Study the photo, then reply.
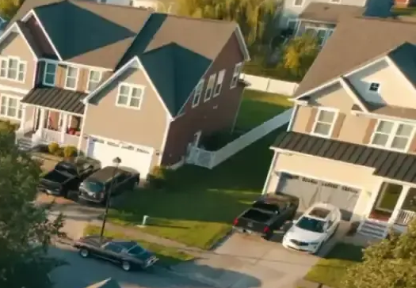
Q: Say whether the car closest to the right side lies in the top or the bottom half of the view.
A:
bottom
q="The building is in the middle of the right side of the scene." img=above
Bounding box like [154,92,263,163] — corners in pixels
[261,16,416,235]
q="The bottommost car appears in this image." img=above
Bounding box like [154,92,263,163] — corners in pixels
[76,235,158,272]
